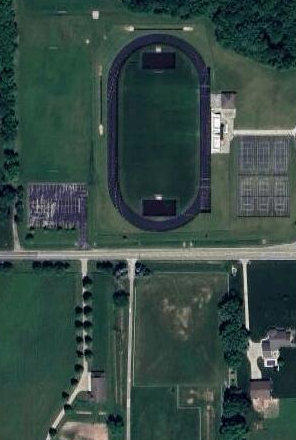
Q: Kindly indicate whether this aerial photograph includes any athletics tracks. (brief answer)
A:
Yes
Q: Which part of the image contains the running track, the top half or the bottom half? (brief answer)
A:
top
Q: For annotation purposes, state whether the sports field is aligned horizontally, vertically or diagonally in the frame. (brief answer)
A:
vertically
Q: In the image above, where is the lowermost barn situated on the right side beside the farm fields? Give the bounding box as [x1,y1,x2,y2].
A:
[250,380,272,398]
